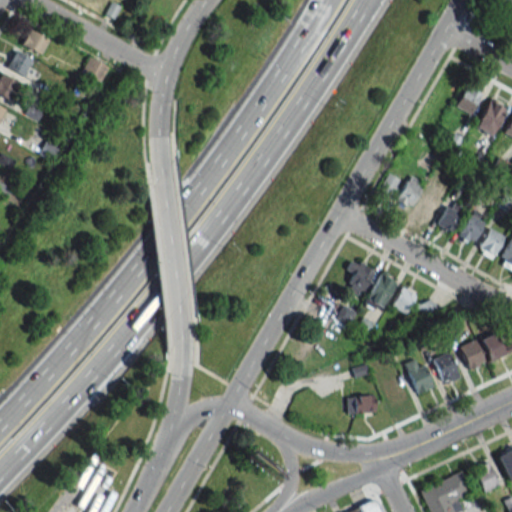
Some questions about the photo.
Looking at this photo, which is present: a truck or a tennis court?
truck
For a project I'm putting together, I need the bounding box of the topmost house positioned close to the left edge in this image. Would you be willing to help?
[24,30,50,54]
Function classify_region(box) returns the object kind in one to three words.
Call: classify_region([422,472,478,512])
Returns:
building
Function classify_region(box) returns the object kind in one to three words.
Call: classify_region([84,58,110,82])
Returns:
house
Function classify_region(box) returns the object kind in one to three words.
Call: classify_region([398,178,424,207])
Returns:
house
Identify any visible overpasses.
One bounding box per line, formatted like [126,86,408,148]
[144,137,200,366]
